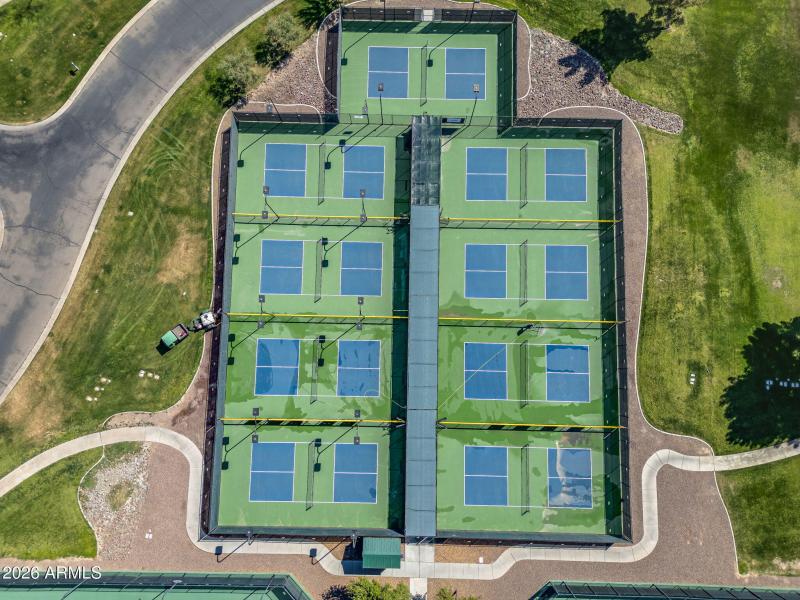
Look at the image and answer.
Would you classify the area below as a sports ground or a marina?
sports ground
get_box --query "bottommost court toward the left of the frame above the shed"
[221,418,406,530]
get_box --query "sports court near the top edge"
[340,20,512,127]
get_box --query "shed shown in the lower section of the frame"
[362,537,402,570]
